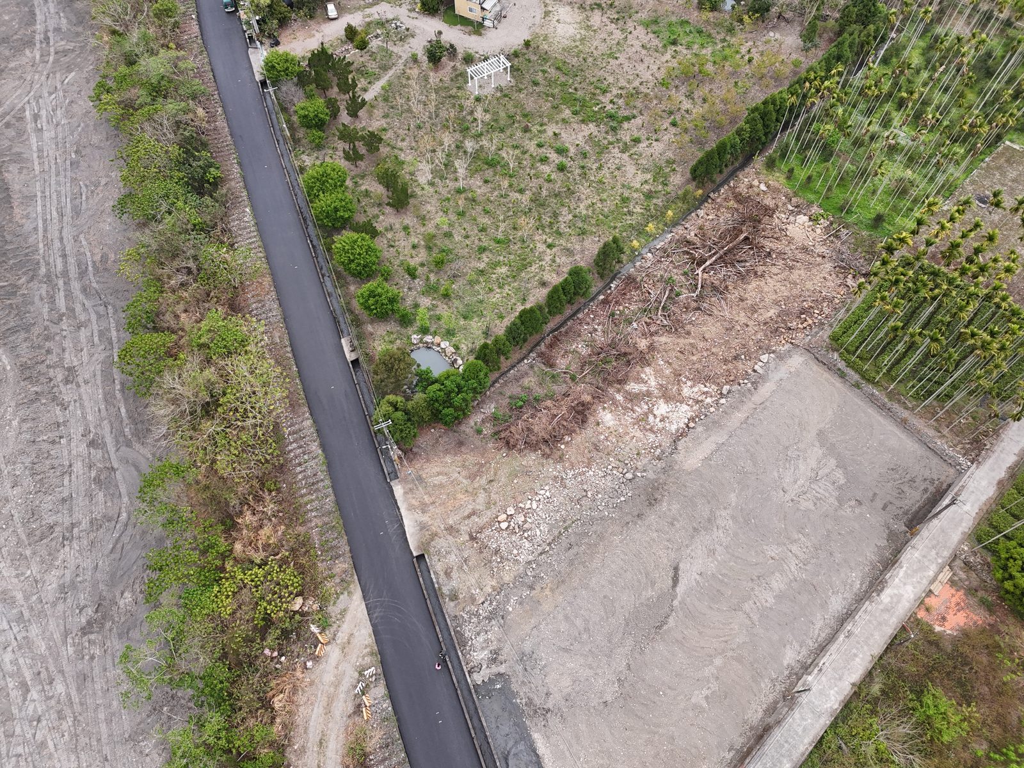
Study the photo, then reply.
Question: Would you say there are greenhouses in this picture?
No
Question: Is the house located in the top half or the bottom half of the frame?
top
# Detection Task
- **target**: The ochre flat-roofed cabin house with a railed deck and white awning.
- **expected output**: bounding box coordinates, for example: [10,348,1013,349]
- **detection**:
[454,0,520,30]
